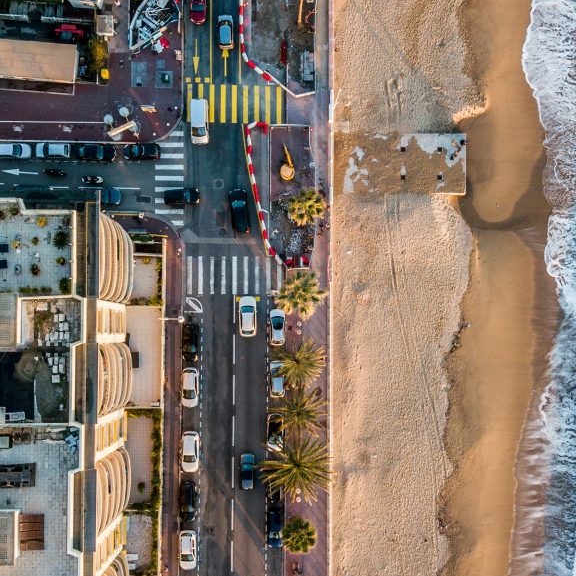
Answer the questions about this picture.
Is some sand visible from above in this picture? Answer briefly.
Yes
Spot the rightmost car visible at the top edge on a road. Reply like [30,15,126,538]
[217,17,235,49]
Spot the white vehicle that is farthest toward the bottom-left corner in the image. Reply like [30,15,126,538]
[179,529,198,569]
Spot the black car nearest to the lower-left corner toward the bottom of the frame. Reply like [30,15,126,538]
[179,481,198,521]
